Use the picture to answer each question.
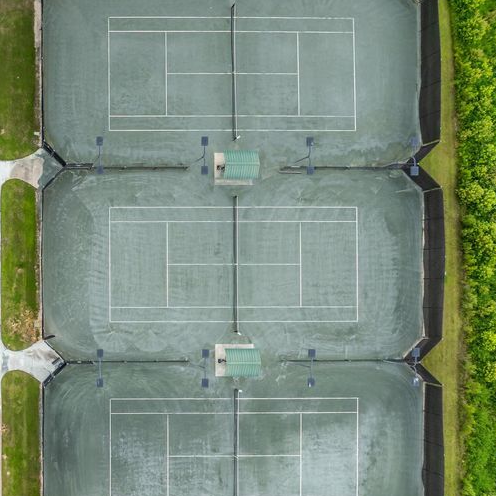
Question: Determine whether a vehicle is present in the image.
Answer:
No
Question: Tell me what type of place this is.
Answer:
sports ground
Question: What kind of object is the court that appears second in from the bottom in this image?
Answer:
tennis court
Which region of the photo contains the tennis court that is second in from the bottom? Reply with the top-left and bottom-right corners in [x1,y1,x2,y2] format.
[45,167,426,362]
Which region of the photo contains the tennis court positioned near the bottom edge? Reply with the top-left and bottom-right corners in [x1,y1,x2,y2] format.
[45,361,425,496]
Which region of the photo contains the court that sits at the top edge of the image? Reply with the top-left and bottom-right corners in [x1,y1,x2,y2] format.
[44,0,421,167]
